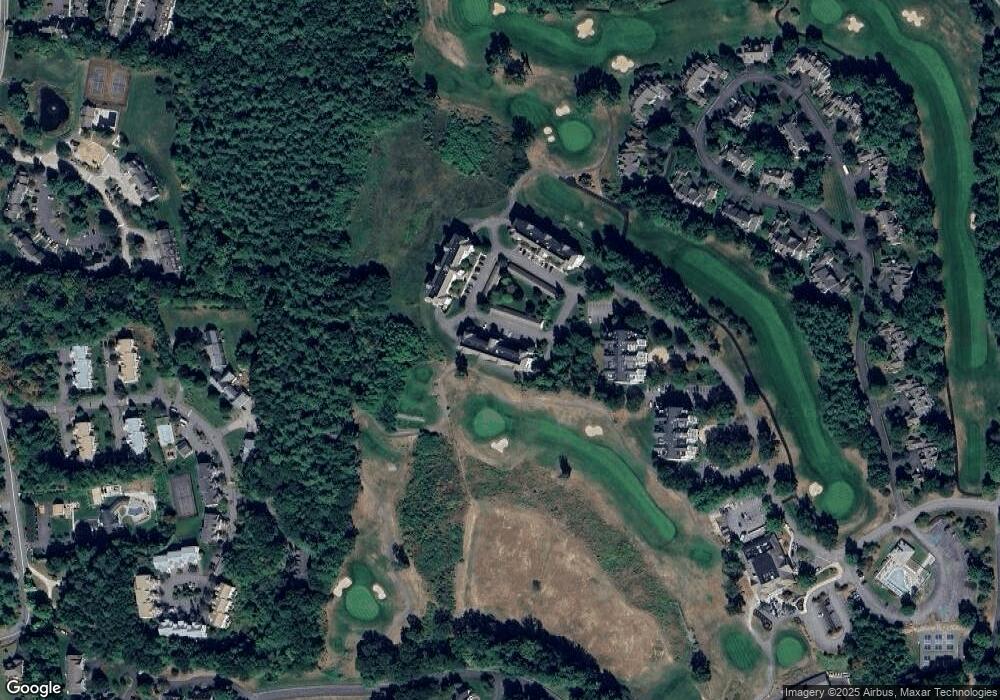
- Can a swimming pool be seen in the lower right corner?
Yes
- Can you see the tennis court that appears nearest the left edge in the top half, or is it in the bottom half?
top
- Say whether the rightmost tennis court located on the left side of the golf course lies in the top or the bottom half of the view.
bottom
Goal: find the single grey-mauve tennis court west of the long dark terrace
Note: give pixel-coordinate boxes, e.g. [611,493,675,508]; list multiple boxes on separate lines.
[171,473,198,517]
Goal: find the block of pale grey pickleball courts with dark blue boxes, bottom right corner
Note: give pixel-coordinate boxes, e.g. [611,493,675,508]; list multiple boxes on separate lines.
[920,631,958,668]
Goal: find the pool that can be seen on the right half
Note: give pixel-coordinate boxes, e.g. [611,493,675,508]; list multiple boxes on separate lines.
[876,538,934,595]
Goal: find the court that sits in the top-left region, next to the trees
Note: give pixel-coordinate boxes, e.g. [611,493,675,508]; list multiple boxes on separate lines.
[84,61,131,105]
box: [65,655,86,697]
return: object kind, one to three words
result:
house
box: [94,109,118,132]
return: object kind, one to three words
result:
swimming pool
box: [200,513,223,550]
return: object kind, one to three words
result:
house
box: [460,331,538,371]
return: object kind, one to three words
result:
building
